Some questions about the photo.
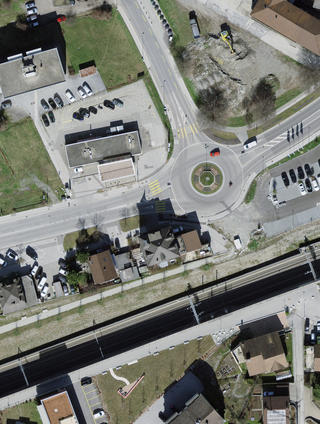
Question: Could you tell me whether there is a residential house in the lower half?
Yes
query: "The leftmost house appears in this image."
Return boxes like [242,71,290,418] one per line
[0,278,26,314]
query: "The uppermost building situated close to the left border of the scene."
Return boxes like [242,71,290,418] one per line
[0,48,66,98]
